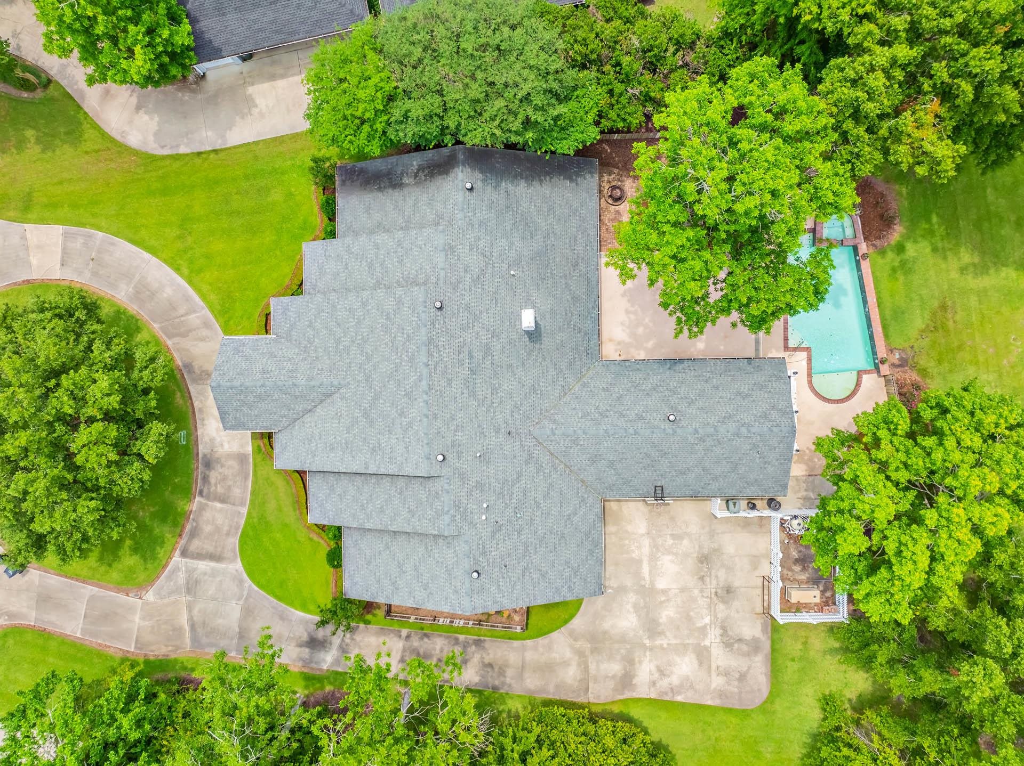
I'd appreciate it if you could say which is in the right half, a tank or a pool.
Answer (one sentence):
There is a pool in the right half.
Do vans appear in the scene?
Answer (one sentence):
No, there isn't any van down there.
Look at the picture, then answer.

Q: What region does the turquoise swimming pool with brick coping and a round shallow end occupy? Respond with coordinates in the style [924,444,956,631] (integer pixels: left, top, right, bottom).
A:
[784,229,880,404]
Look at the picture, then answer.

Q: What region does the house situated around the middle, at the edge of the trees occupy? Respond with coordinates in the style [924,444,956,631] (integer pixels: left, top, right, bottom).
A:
[209,146,799,614]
